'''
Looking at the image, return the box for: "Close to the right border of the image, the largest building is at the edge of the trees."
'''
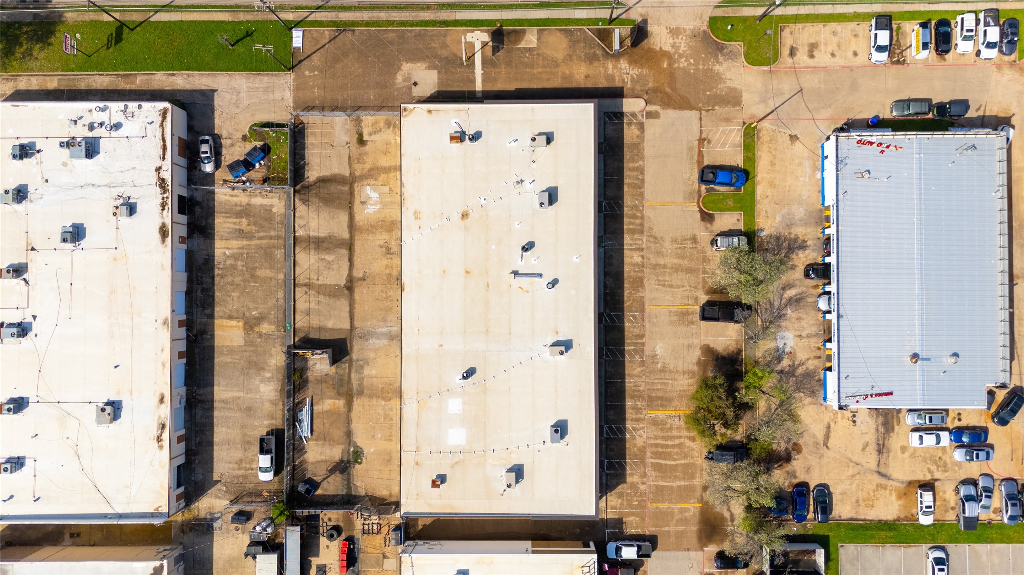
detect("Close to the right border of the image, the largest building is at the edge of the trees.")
[820,131,1012,411]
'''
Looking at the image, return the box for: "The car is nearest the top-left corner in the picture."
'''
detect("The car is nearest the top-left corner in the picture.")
[198,135,219,174]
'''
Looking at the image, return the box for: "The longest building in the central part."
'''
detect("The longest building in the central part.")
[400,99,598,518]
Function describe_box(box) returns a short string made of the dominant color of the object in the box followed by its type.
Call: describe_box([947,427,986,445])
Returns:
blue car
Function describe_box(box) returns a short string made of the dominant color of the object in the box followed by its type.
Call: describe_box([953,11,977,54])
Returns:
white car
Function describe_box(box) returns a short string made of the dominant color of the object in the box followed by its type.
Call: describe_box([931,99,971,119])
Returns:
black car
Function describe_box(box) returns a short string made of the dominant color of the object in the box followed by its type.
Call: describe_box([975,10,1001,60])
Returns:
white truck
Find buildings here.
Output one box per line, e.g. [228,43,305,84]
[0,546,184,575]
[0,103,188,525]
[400,99,598,518]
[820,131,1012,411]
[401,538,597,575]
